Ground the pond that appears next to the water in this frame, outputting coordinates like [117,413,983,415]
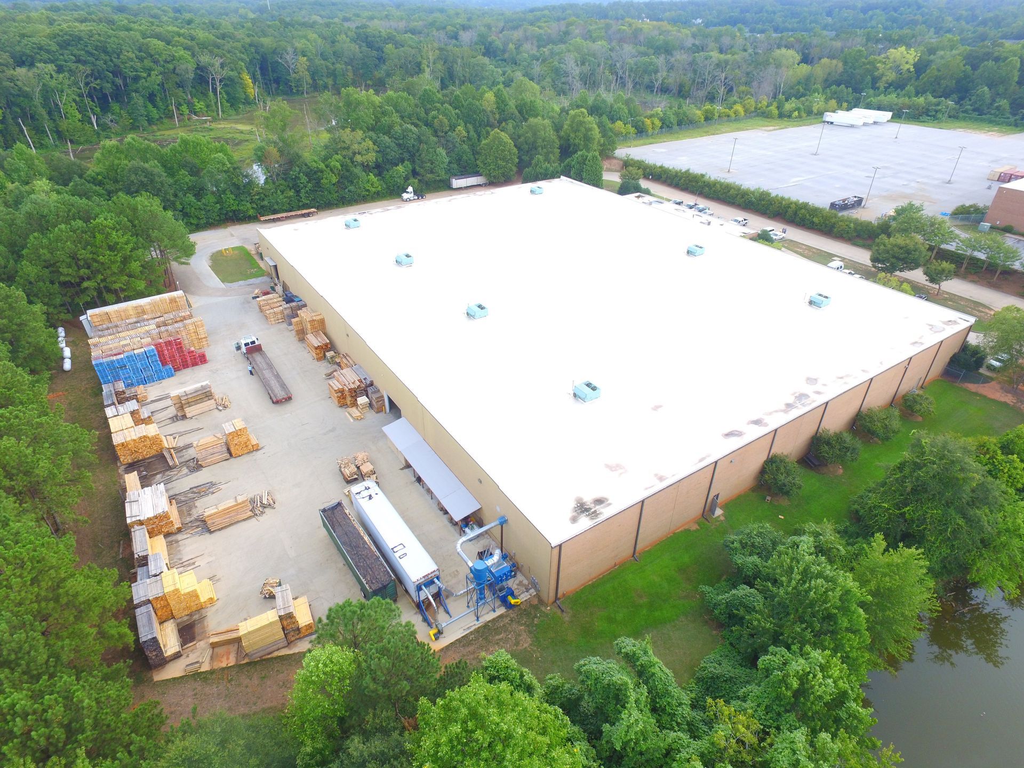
[882,499,1024,768]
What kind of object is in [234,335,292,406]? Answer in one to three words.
truck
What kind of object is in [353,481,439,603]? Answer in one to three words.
trailer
